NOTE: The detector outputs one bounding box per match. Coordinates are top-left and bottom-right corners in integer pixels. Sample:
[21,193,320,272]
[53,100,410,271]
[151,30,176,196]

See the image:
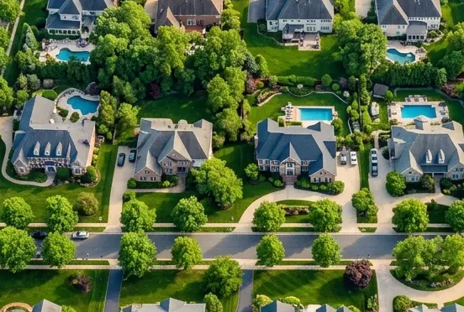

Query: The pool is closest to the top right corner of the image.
[386,47,415,63]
